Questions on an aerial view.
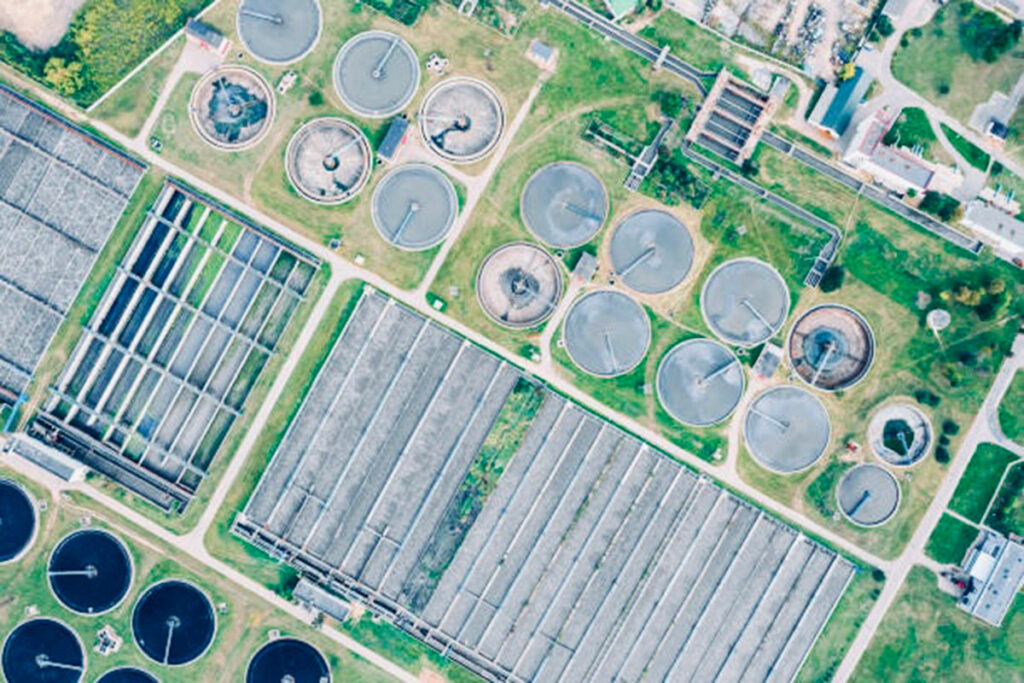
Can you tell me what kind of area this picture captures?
industrial area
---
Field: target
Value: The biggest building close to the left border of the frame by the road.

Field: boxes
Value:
[11,432,90,482]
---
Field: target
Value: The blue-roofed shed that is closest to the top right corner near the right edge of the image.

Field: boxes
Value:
[986,120,1010,141]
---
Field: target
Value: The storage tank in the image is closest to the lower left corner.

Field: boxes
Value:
[1,616,87,683]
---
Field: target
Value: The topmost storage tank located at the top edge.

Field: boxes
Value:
[237,0,322,65]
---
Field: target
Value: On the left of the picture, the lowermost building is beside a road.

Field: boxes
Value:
[291,575,354,623]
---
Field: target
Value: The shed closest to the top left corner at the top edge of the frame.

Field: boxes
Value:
[185,20,230,57]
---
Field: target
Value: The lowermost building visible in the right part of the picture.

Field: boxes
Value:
[953,528,1024,628]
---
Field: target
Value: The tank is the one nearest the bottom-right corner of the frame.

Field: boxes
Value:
[835,462,900,527]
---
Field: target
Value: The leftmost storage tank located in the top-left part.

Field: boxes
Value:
[188,65,275,152]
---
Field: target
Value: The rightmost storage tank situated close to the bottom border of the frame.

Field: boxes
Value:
[244,636,332,683]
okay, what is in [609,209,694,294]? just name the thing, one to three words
storage tank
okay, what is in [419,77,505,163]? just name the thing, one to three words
storage tank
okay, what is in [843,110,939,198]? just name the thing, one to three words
building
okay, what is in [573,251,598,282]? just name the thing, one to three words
shed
